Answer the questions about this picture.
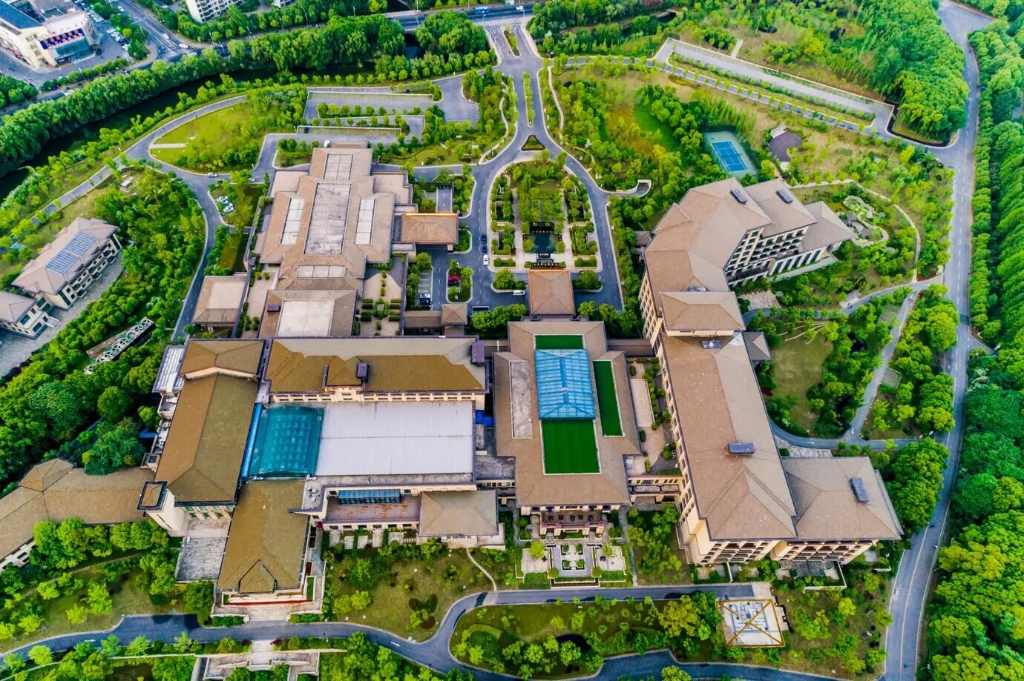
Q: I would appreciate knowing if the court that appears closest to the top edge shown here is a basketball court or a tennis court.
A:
tennis court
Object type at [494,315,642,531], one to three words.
building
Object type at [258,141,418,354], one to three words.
building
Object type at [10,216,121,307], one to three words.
house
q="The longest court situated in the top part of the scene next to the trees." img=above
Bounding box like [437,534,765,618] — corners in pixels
[705,124,761,178]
